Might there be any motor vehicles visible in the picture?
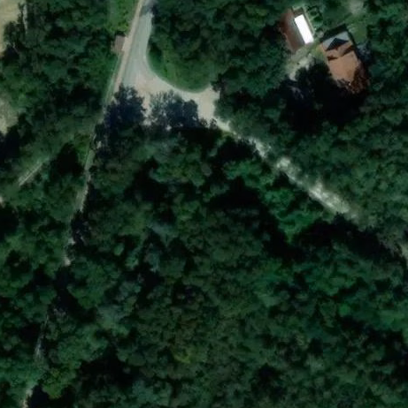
No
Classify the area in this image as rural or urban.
rural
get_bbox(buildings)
[110,34,126,51]
[278,7,314,52]
[319,27,367,85]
